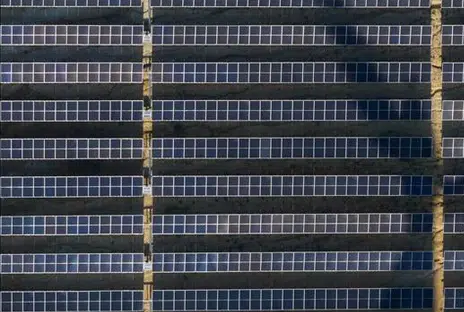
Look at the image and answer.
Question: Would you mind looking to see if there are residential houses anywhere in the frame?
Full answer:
No, no residential house is visible in the view.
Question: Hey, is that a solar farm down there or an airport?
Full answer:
The picture captures a solar farm.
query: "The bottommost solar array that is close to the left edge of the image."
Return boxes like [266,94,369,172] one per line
[0,290,144,312]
